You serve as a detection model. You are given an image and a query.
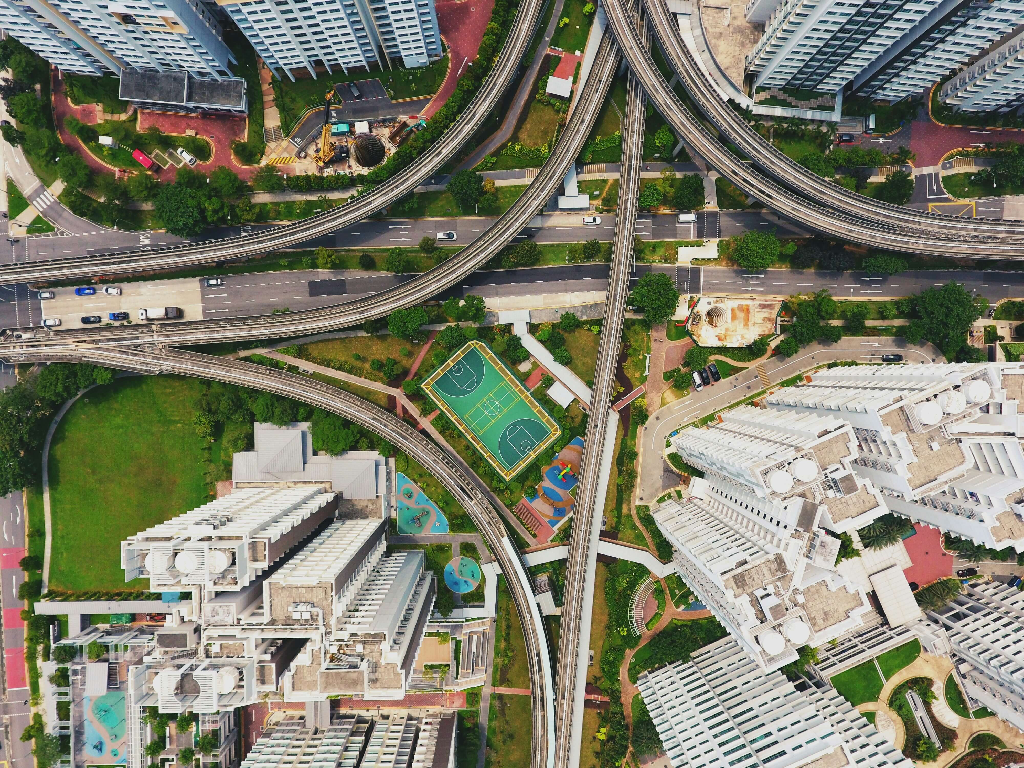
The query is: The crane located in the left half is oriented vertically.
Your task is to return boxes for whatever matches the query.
[312,84,349,172]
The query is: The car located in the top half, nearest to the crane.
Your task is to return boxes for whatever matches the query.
[347,79,361,100]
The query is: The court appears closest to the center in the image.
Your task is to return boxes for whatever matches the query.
[419,334,563,486]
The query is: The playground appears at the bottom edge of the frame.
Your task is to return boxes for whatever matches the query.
[85,692,126,764]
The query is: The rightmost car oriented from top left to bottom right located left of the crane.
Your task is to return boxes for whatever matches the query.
[175,148,195,164]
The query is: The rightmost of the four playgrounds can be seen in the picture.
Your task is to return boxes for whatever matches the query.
[524,437,585,528]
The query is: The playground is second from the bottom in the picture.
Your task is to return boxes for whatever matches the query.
[443,556,482,594]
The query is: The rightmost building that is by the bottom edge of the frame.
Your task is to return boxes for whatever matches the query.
[921,566,1024,741]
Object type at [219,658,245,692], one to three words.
water tank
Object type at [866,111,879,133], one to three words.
vehicle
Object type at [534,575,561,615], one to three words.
shed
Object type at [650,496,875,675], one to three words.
building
